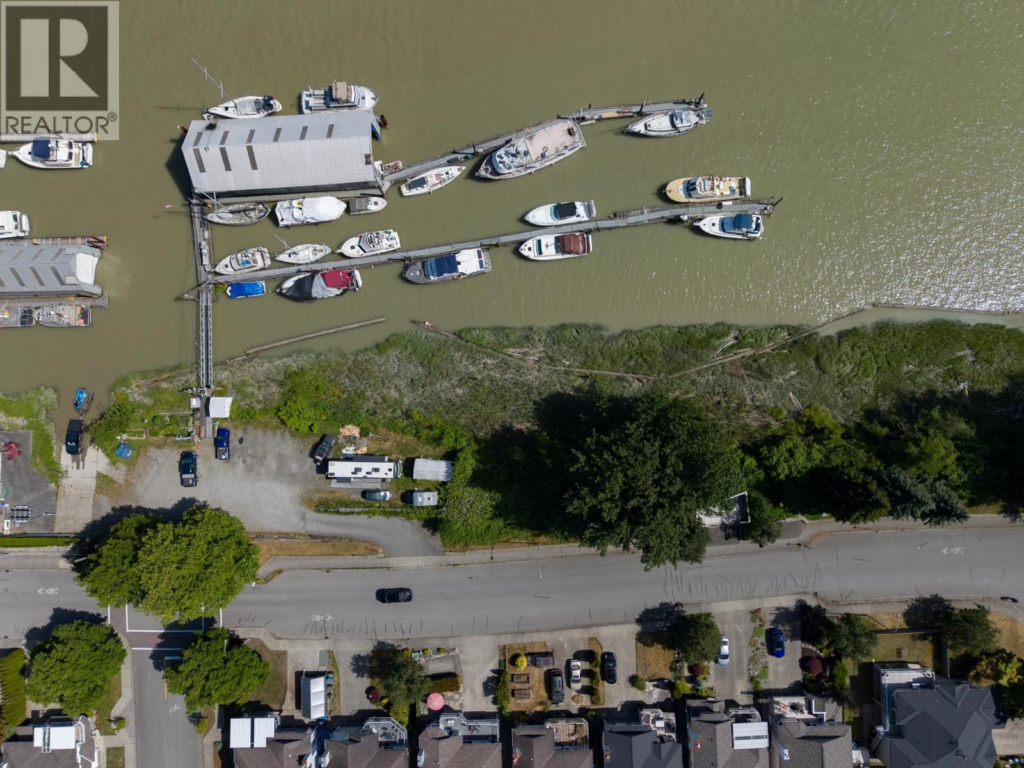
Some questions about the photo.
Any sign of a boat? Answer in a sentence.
Yes, a boat is visible in the scene.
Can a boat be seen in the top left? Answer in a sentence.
Yes, the scene does show a boat in the top left.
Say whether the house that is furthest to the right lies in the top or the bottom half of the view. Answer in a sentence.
Seen from above, the house that is furthest to the right lies in the bottom half of the view.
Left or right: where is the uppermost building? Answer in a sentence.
The uppermost building is on the left side of the image.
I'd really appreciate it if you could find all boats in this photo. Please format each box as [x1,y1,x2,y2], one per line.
[661,172,750,202]
[210,247,275,273]
[519,234,593,262]
[6,138,96,169]
[0,212,33,239]
[31,304,97,327]
[477,116,586,177]
[276,200,347,229]
[274,263,365,299]
[74,388,86,410]
[524,202,597,226]
[301,81,380,114]
[194,196,273,224]
[401,166,466,198]
[187,63,285,119]
[0,303,40,327]
[349,198,387,214]
[696,212,762,240]
[625,105,715,137]
[402,248,494,285]
[337,228,403,257]
[227,281,267,300]
[271,241,333,266]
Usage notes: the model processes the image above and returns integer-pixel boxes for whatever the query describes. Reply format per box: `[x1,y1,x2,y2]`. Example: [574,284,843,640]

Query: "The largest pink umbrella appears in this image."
[428,694,445,711]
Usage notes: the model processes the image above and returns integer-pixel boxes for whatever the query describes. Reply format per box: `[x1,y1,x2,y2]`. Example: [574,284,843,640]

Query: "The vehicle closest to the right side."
[769,629,786,657]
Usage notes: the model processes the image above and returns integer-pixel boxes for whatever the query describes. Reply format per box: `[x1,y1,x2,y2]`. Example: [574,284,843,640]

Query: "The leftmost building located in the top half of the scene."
[0,245,111,298]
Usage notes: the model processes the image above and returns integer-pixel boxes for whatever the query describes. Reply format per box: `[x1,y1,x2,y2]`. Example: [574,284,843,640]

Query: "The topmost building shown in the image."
[181,111,384,199]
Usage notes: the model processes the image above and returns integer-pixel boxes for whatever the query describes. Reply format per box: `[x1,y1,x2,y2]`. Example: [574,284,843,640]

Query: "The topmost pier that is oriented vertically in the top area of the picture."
[192,200,215,286]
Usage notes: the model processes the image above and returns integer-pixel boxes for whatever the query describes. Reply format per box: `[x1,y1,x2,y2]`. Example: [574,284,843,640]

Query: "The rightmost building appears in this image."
[864,660,1001,768]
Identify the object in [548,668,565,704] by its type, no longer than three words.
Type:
car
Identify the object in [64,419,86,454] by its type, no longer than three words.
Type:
truck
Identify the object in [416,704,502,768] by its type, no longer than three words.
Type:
house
